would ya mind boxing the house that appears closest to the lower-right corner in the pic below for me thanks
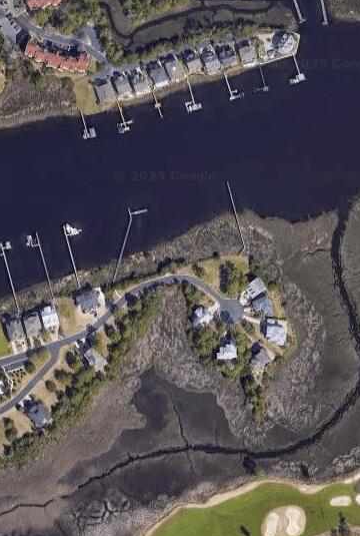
[246,345,274,371]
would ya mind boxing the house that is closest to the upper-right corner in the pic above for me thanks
[271,30,297,58]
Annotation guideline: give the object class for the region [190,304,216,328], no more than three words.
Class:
house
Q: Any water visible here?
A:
Yes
